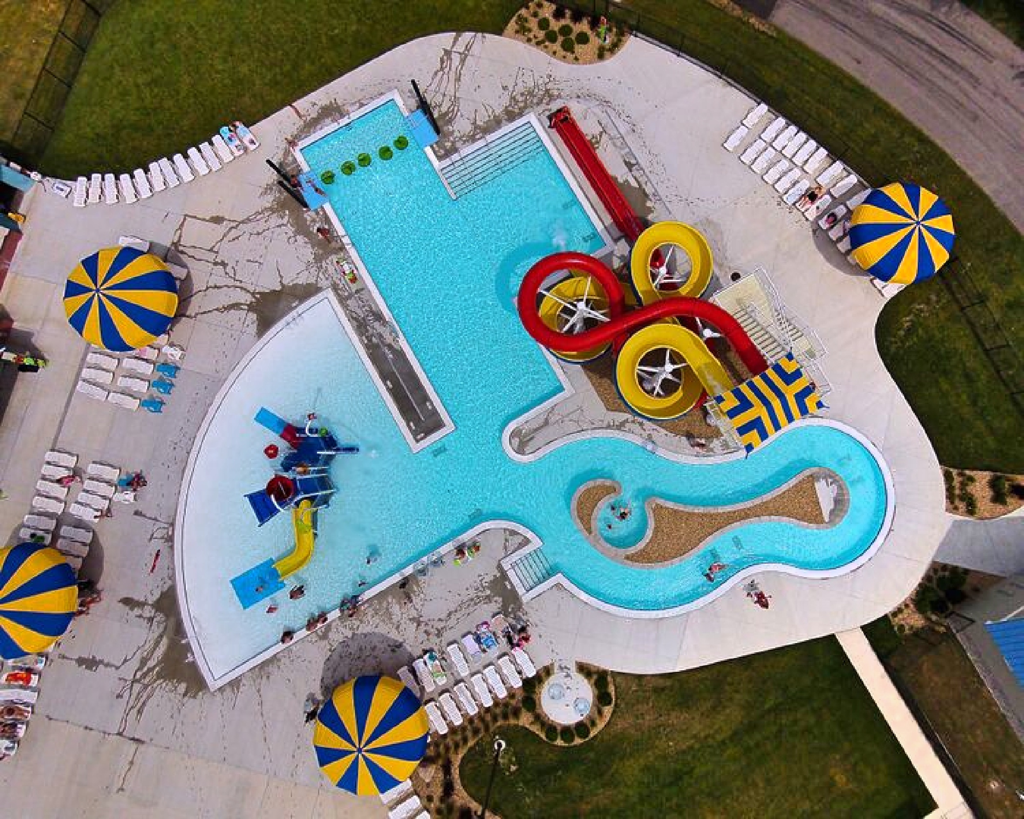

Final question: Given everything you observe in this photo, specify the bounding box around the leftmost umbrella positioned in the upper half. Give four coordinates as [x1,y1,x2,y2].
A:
[68,240,180,358]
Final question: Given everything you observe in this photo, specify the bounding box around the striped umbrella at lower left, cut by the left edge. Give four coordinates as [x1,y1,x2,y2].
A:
[0,542,79,657]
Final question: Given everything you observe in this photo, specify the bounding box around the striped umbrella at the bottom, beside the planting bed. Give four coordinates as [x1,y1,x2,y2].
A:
[314,673,432,794]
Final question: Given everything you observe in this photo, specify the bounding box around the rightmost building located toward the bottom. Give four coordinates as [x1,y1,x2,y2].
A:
[961,569,1024,696]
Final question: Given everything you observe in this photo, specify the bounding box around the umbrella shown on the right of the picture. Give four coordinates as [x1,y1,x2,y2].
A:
[846,186,954,285]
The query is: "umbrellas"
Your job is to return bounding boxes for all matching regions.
[314,673,432,794]
[846,186,954,285]
[68,240,180,358]
[0,542,79,657]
